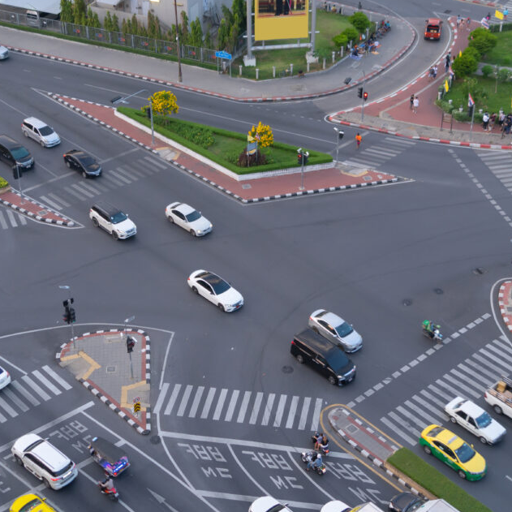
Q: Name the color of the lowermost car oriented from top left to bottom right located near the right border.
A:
yellow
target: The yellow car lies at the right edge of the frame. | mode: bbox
[420,423,487,477]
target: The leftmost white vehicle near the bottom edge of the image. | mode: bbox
[13,436,77,490]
